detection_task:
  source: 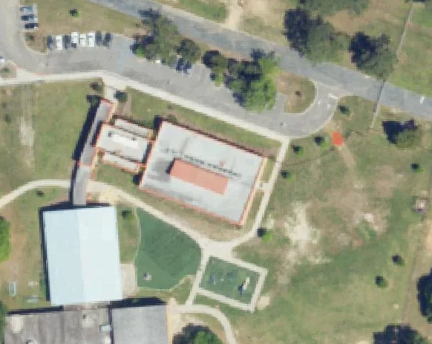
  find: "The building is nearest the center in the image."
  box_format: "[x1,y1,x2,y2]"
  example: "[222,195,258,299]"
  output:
[141,120,269,224]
